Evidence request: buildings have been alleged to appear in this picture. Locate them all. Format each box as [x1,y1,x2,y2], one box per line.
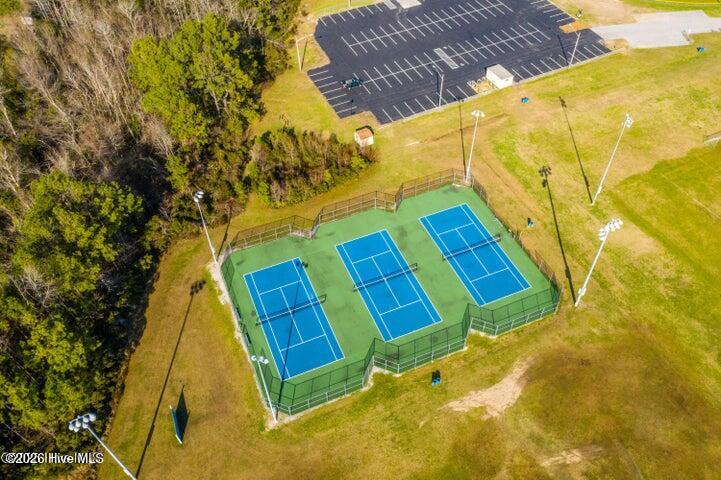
[487,64,517,89]
[354,127,374,146]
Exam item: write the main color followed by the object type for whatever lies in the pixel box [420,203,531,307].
blue tennis court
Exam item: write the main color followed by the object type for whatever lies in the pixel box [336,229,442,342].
blue tennis court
